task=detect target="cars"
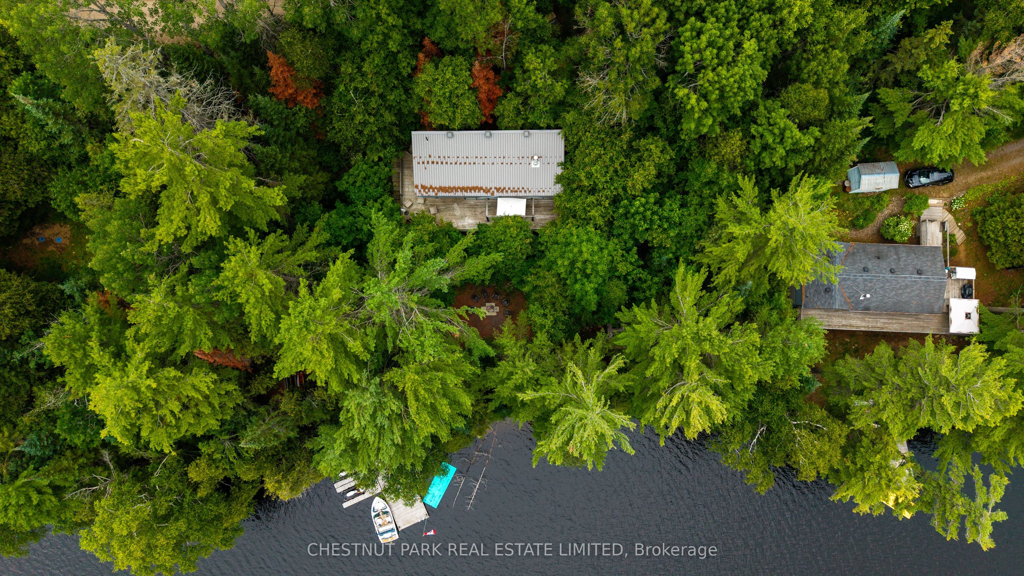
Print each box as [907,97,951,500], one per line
[903,168,953,190]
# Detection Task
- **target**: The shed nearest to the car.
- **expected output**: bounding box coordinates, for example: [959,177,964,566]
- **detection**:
[844,161,899,194]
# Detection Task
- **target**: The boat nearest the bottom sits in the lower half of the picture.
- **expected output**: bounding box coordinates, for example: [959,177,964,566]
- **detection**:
[372,496,398,543]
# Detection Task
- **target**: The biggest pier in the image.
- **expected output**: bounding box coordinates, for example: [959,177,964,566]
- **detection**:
[380,478,429,531]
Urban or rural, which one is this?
rural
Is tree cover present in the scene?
Yes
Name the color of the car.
black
